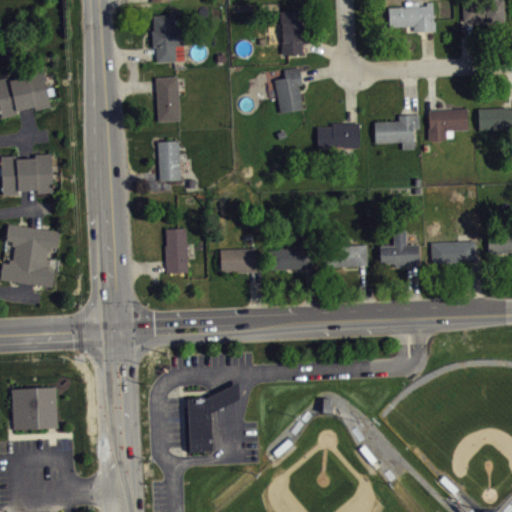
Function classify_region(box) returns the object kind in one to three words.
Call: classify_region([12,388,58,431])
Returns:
building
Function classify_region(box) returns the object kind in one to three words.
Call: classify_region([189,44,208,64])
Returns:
swimming pool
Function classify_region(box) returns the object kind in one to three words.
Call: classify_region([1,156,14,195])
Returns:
house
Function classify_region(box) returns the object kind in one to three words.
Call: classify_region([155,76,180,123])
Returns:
house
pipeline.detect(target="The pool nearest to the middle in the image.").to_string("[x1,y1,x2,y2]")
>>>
[236,94,254,116]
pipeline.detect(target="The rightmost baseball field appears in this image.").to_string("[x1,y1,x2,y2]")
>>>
[384,366,512,510]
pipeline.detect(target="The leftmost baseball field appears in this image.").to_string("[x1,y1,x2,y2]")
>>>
[262,430,384,512]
